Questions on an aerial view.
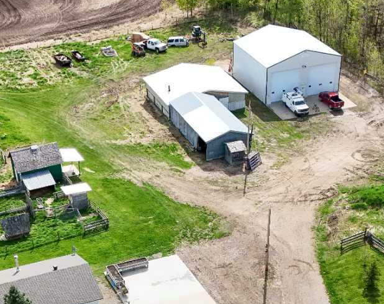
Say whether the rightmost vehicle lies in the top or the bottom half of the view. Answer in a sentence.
You can find the rightmost vehicle in the top half.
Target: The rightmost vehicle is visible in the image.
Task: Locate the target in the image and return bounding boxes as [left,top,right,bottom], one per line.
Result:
[314,89,346,109]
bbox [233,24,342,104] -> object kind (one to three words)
building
